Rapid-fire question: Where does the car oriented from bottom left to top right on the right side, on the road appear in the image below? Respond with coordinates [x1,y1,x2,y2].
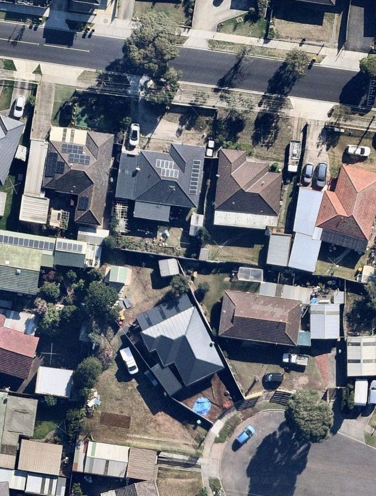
[234,424,257,445]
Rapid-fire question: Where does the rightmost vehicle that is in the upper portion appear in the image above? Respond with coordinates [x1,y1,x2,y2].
[346,144,373,157]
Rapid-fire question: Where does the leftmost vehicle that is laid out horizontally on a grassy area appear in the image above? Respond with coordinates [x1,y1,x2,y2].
[260,373,286,387]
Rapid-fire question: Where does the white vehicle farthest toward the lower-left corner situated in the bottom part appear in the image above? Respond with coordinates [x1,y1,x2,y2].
[120,346,140,375]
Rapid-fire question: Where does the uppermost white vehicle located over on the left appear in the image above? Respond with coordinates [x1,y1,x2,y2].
[12,93,26,119]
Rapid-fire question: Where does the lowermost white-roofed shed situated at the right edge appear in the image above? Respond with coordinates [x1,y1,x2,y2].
[347,337,376,377]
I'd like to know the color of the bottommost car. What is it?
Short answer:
blue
